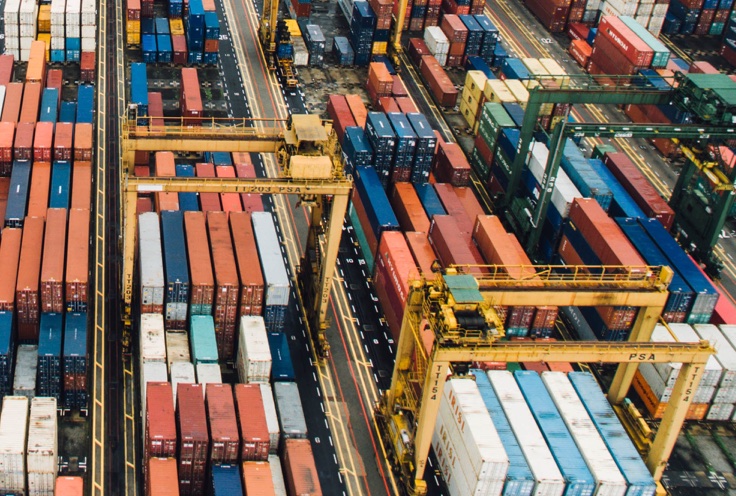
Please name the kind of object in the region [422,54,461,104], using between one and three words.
shipping container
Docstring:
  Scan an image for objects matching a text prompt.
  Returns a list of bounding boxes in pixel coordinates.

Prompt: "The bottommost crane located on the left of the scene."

[114,113,358,367]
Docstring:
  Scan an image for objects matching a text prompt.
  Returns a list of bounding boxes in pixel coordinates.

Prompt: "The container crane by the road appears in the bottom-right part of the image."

[378,262,720,496]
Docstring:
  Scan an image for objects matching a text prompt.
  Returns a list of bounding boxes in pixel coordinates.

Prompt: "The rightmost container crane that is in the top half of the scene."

[496,65,736,275]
